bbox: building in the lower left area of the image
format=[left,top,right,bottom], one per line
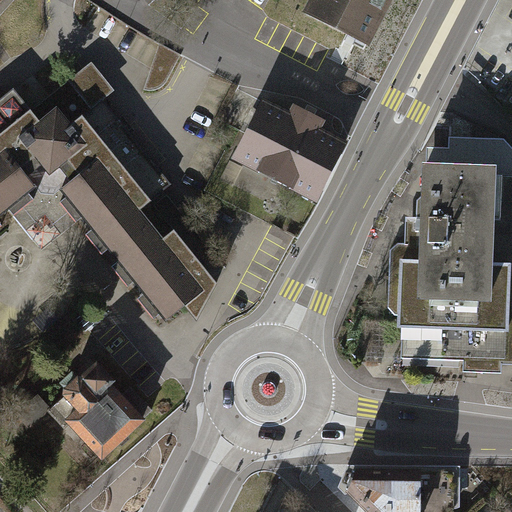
[50,362,152,460]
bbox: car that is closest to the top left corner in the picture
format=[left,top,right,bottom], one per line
[99,16,116,38]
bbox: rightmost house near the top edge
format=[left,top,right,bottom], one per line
[302,0,392,50]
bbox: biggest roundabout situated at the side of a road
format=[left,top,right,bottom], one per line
[204,322,336,456]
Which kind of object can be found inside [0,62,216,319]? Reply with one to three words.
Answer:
building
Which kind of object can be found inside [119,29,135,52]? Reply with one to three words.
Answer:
car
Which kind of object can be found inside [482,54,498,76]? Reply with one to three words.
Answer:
car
